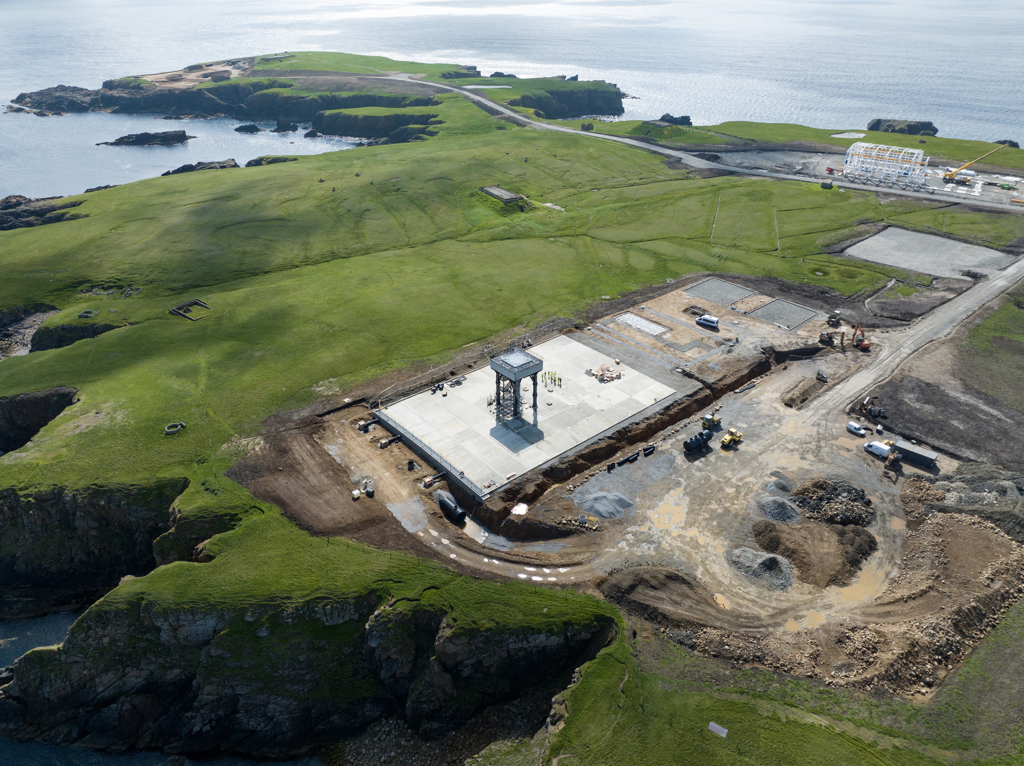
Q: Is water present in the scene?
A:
Yes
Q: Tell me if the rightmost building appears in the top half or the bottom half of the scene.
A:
top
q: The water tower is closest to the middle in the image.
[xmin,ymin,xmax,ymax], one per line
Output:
[489,339,543,417]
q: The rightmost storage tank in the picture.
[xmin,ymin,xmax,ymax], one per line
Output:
[681,430,716,460]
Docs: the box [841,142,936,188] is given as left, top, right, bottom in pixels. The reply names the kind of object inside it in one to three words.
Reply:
building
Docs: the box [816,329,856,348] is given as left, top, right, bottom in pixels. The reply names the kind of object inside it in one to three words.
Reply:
work vehicle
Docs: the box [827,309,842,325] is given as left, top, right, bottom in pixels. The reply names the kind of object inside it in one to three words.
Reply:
vehicle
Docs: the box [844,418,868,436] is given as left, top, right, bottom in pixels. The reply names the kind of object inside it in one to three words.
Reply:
vehicle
